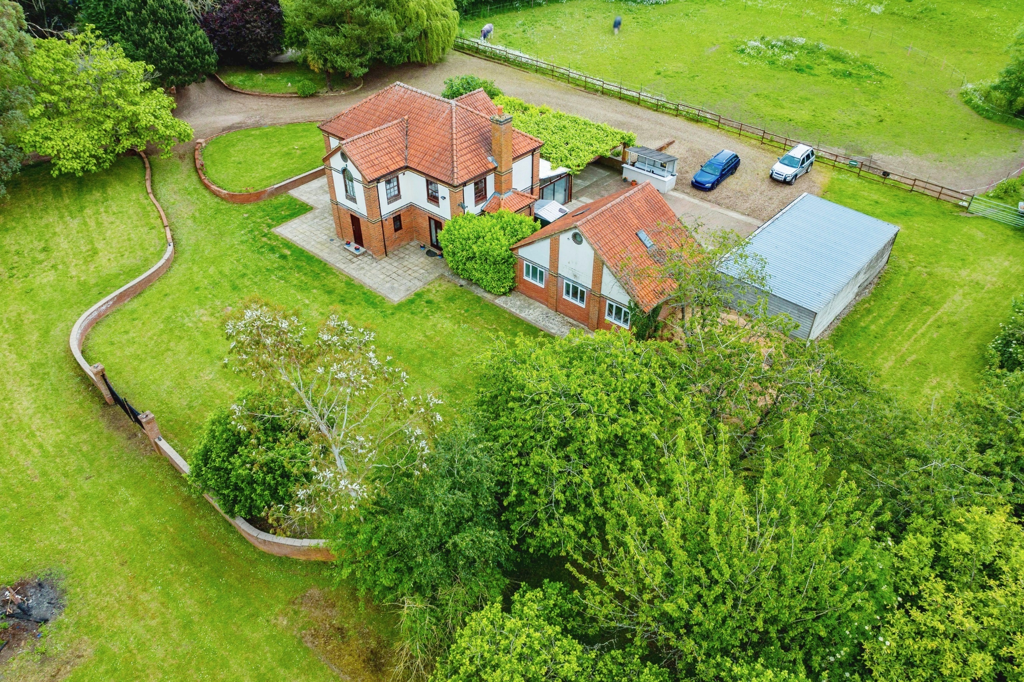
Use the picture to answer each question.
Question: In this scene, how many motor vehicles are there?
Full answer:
My tally gives 2 motor vehicles in this view.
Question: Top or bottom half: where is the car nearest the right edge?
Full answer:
The top half of the photo is where the car nearest the right edge is.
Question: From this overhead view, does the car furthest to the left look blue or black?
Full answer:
The car furthest to the left looks blue in the image.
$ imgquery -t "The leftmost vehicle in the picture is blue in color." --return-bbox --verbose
[689,149,744,189]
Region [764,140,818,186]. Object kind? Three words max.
car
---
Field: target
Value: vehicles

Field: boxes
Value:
[689,149,744,189]
[764,140,818,186]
